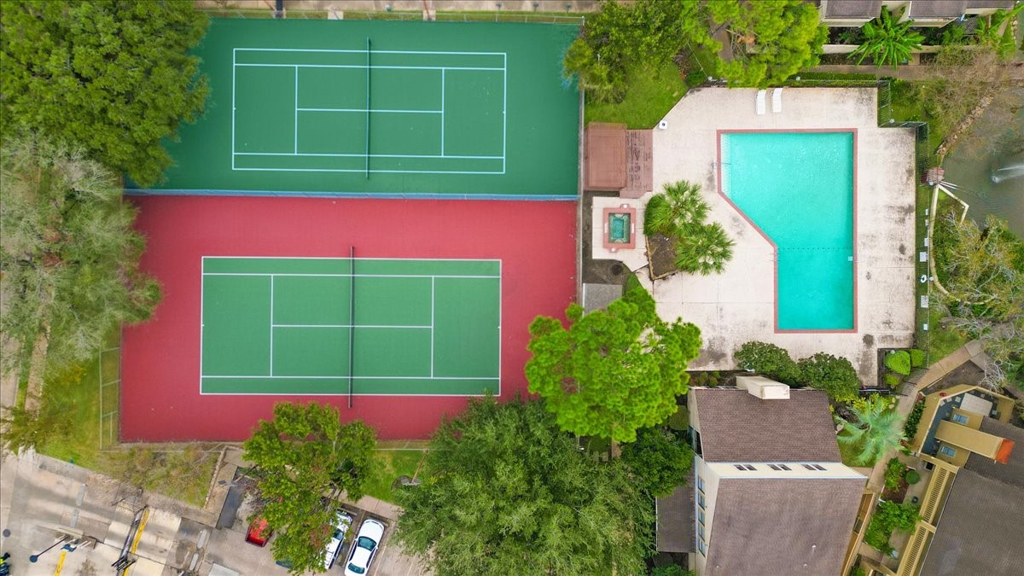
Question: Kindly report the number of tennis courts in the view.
2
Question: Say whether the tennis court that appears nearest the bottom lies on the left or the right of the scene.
left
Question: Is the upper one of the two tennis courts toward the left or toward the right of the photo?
left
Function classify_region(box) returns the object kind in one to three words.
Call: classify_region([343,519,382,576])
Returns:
car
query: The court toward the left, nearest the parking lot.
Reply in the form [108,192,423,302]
[120,195,583,442]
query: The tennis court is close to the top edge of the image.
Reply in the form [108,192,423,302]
[120,16,582,196]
